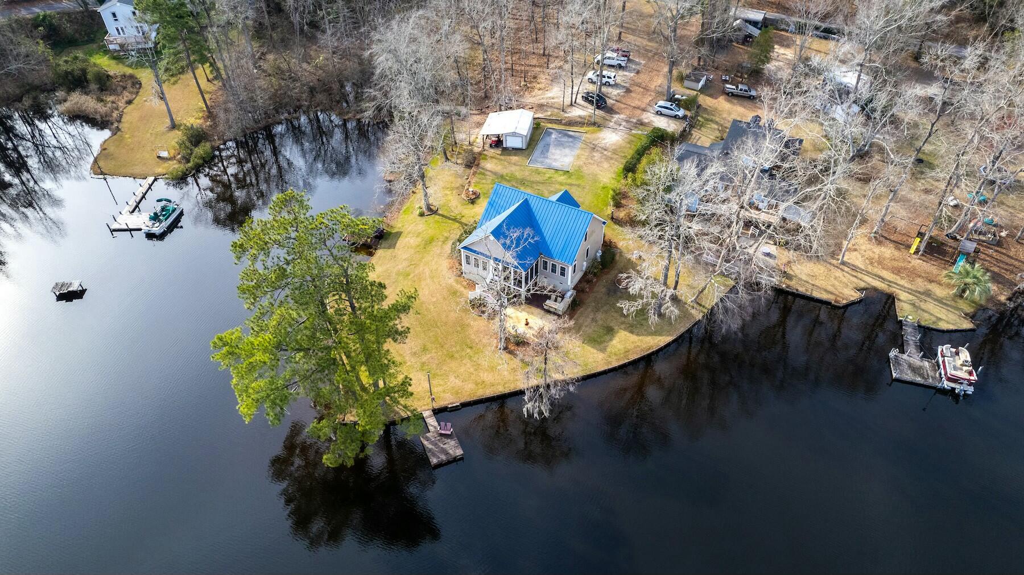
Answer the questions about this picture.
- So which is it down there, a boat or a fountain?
boat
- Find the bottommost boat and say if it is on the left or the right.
right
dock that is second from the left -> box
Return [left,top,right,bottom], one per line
[420,410,465,471]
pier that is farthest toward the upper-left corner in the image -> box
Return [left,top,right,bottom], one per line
[106,177,156,236]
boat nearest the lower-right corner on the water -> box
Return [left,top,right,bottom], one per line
[933,347,978,405]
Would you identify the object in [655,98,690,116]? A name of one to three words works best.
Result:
car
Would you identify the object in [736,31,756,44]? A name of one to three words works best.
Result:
vehicle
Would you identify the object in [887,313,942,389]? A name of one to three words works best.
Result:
pier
